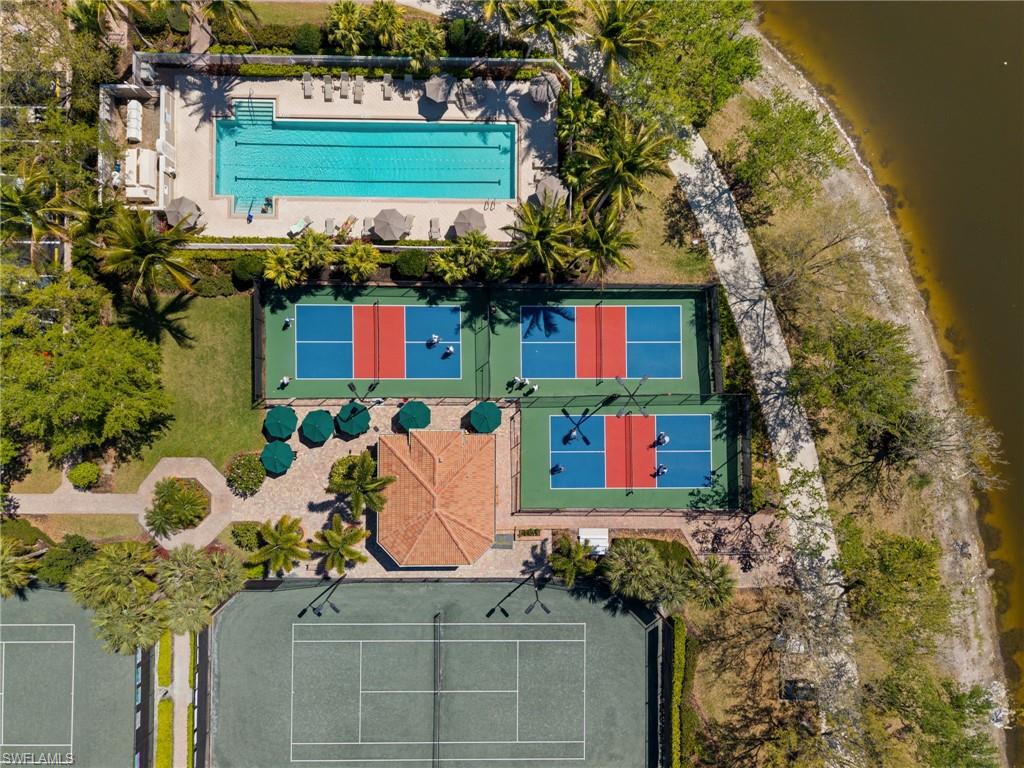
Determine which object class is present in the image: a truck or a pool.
pool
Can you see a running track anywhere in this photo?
No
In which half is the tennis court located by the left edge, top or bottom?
bottom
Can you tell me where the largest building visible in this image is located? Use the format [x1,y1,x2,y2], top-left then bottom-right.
[376,427,497,567]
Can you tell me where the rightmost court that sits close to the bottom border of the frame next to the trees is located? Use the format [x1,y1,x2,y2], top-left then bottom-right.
[207,580,659,768]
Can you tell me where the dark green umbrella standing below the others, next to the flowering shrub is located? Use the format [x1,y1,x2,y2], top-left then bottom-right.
[262,441,296,475]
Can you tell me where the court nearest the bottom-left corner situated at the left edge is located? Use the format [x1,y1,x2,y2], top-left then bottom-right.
[0,588,150,768]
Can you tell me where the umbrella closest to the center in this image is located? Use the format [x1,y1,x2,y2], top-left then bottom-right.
[469,400,502,433]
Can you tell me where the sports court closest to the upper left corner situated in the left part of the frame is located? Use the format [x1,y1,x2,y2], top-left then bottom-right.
[263,288,489,398]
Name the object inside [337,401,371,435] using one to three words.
umbrella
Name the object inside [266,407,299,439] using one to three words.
umbrella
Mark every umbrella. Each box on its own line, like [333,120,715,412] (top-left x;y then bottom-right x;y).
[262,441,296,475]
[532,173,568,209]
[451,205,486,238]
[423,75,458,113]
[469,400,502,433]
[302,410,336,444]
[398,398,432,429]
[167,195,202,230]
[373,207,410,243]
[337,401,371,435]
[266,407,299,439]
